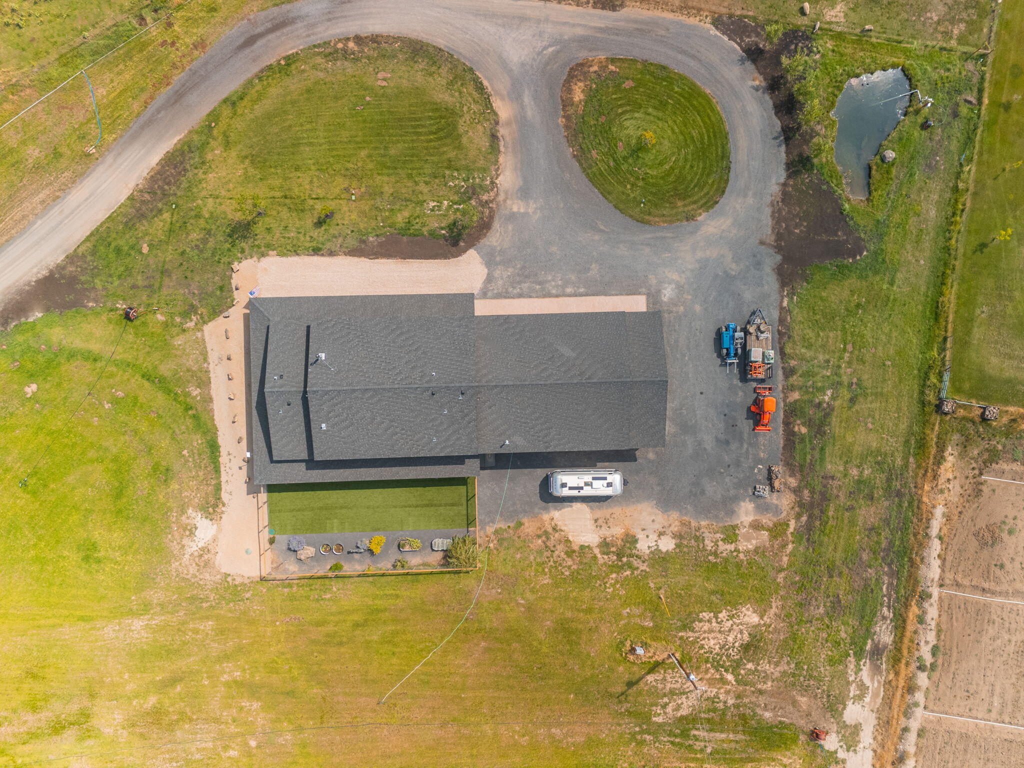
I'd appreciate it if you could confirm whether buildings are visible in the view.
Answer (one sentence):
Yes, the photo shows a building.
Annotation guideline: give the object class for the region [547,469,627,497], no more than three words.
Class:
trailer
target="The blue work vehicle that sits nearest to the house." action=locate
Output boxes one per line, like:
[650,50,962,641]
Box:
[720,322,747,373]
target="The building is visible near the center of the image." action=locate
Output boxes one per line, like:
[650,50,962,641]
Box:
[249,293,668,485]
